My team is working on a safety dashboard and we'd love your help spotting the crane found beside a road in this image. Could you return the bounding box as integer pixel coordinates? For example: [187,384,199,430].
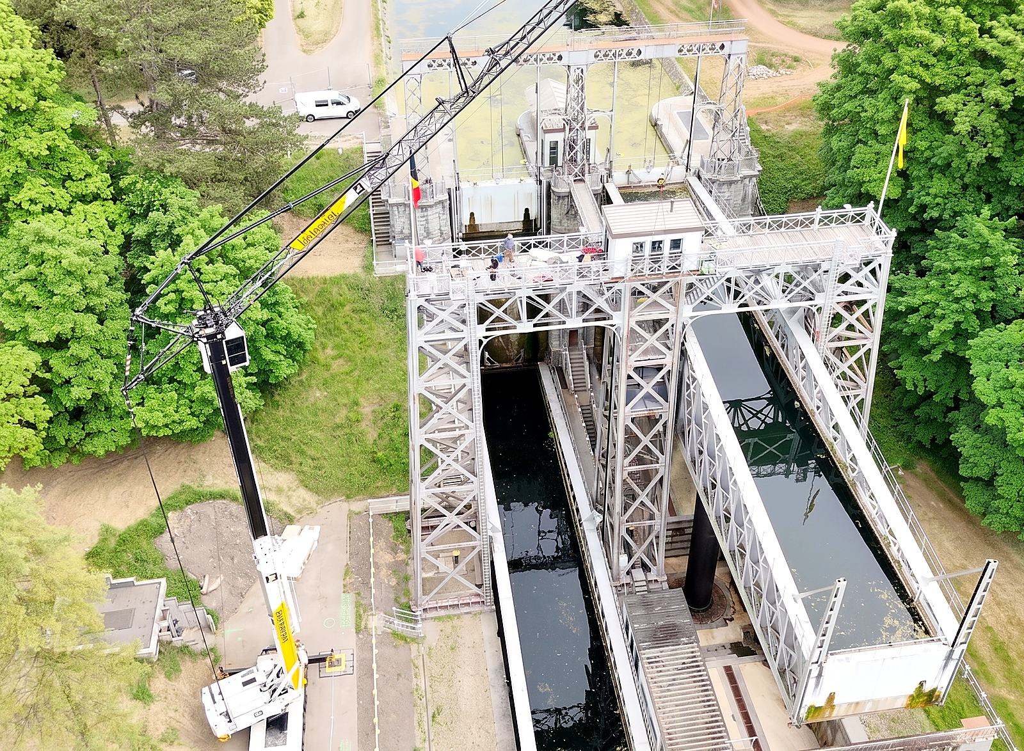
[120,0,587,751]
